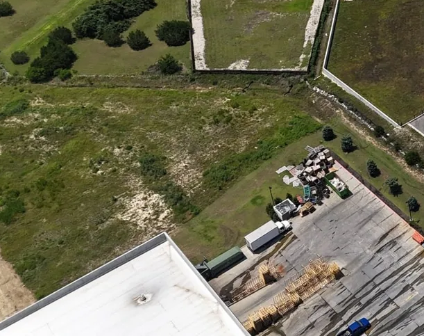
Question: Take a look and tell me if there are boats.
No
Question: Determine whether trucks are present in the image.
Yes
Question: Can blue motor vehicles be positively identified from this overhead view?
Yes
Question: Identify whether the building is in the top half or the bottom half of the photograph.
bottom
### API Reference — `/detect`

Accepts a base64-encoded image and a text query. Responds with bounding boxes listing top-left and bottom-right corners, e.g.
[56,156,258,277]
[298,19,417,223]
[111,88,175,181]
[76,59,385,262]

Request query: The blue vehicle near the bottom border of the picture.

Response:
[339,314,373,336]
